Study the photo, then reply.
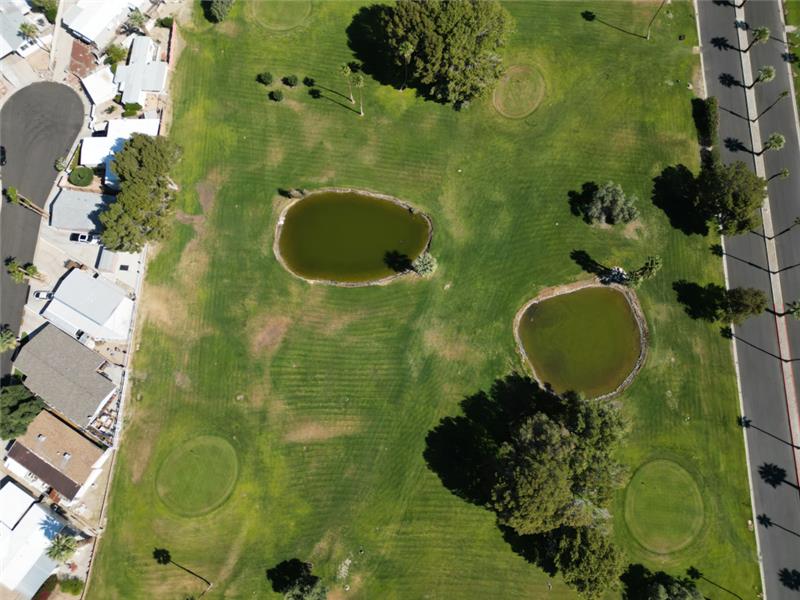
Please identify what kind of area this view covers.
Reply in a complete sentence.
It's a golf course.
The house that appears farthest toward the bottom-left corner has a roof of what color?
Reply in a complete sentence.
From above, the roof of the house that appears farthest toward the bottom-left corner looks white.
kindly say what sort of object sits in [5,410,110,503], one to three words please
house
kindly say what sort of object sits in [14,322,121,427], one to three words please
house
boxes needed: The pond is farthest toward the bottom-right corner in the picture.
[516,282,647,403]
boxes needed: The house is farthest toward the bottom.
[0,480,69,600]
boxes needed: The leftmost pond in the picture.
[276,188,433,286]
